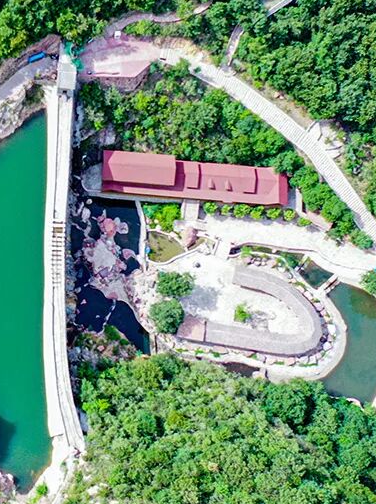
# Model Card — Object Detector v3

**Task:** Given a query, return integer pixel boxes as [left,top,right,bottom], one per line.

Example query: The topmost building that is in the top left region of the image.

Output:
[57,62,76,94]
